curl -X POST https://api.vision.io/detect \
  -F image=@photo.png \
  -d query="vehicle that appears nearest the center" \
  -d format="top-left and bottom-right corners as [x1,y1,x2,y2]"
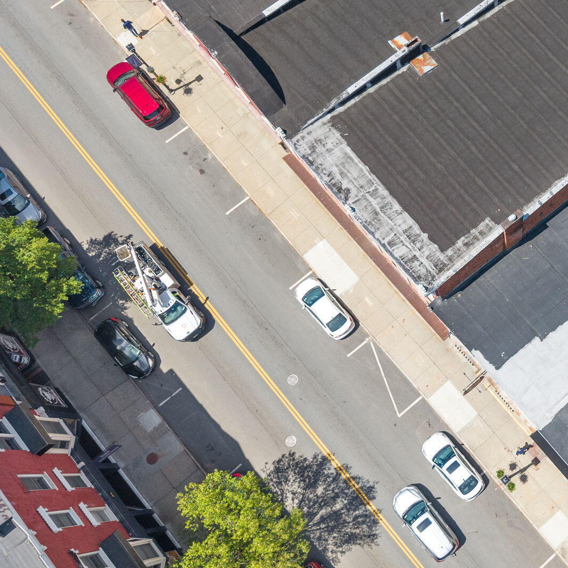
[295,274,359,345]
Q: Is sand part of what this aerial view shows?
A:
No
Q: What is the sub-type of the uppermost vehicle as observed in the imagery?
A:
automobile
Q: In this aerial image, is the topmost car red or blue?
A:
red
